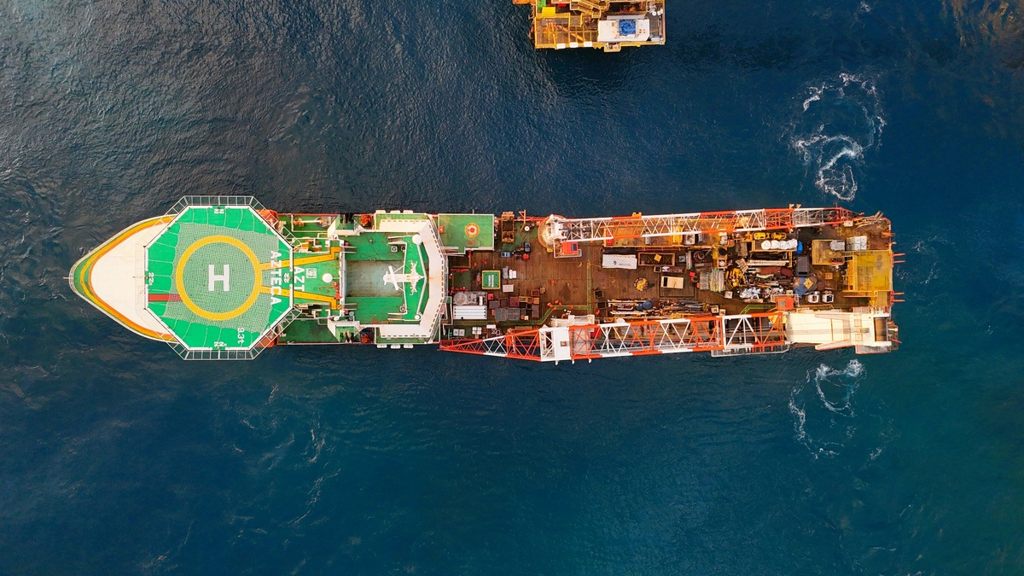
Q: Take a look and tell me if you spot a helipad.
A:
Yes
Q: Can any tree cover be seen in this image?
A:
No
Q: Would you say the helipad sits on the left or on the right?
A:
left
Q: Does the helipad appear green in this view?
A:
Yes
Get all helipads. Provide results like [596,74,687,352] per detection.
[134,196,302,360]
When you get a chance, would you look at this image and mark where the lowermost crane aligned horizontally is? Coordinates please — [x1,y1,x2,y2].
[437,295,892,364]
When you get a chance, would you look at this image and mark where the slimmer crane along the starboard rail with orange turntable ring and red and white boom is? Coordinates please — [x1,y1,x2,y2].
[533,203,866,257]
